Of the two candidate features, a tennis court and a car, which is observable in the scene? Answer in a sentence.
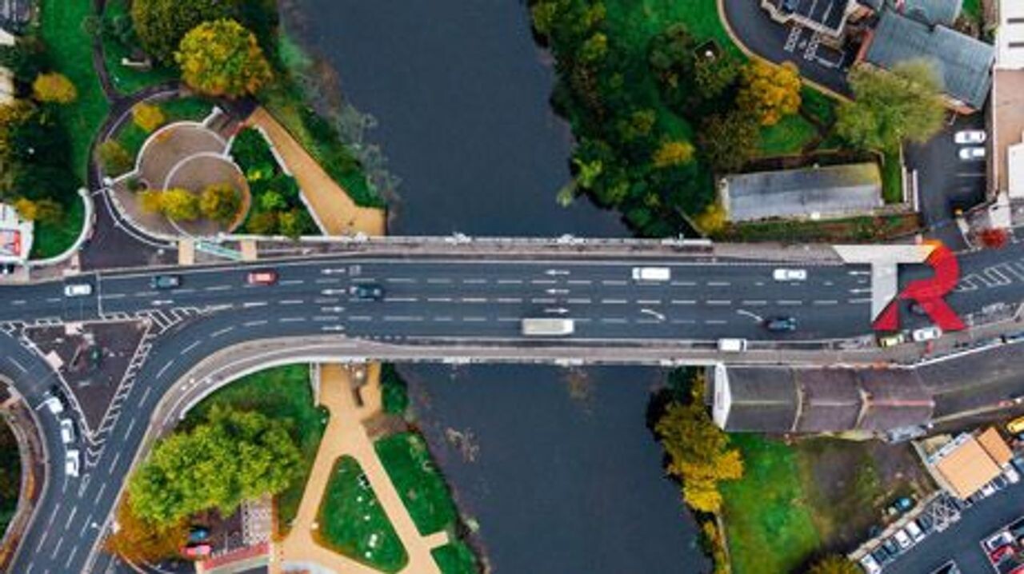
Looking from above, you can make out a car.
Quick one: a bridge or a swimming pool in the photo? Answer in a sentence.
The image shows a bridge.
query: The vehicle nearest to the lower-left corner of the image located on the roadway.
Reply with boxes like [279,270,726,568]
[66,447,83,477]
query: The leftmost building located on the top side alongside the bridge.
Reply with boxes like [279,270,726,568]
[719,162,890,224]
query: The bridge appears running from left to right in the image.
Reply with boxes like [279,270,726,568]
[340,231,730,369]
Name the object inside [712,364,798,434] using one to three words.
house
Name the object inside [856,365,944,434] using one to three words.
house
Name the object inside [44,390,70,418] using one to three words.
vehicle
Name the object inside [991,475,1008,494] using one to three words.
car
